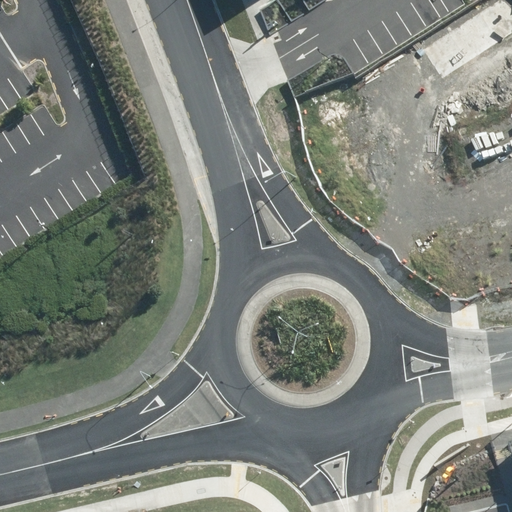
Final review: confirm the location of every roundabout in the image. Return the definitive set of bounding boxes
[36,164,454,506]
